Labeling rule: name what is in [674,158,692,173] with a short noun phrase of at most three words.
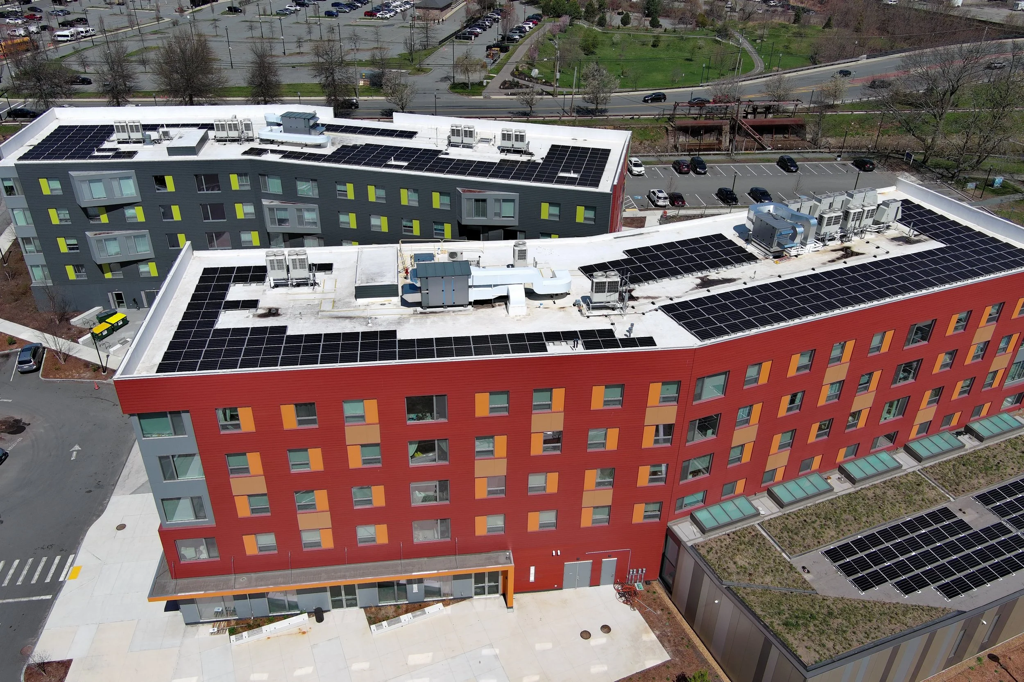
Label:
car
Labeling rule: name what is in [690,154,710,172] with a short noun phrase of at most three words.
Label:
car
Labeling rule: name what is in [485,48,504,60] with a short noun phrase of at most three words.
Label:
vehicle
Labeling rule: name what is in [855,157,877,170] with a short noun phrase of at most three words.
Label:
vehicle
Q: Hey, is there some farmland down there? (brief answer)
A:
No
